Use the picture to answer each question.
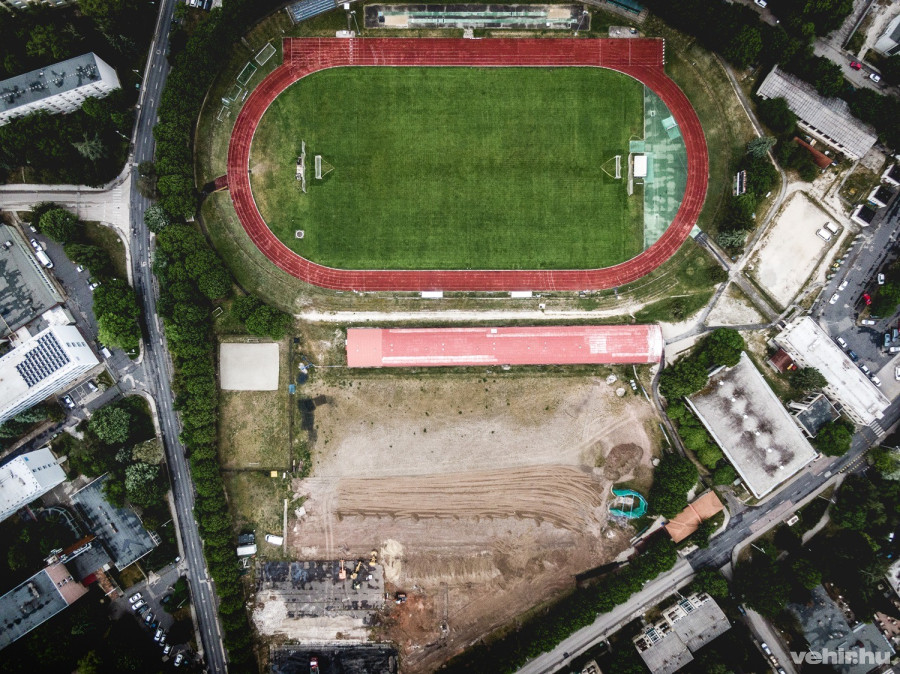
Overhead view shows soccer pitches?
Yes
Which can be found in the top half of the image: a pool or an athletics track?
athletics track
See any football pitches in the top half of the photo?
Yes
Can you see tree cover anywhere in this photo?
Yes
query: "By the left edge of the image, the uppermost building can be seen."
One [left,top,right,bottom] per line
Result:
[0,52,122,128]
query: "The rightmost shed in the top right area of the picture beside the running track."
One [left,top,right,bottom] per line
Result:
[754,66,877,160]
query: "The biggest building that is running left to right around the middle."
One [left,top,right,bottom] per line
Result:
[346,324,663,367]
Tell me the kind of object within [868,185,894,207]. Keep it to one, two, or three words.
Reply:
house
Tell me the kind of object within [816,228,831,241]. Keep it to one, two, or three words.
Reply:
vehicle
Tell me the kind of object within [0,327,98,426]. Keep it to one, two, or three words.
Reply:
building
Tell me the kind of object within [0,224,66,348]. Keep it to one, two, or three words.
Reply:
building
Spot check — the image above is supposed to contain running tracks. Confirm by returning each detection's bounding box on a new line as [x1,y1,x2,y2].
[228,38,708,291]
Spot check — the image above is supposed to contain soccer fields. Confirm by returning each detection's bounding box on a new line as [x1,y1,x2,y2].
[249,68,642,270]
